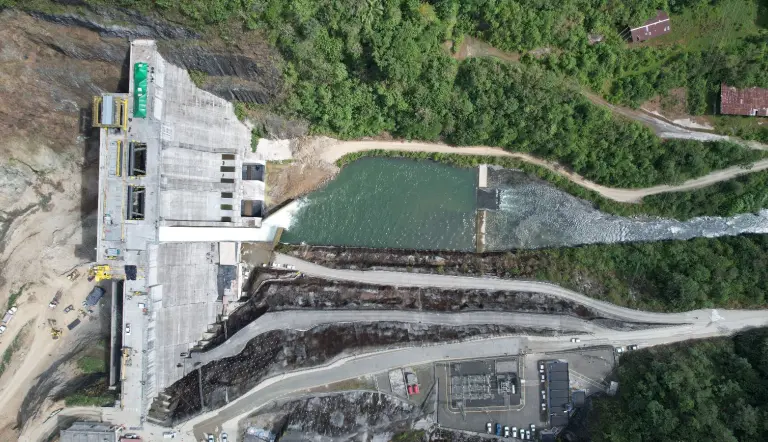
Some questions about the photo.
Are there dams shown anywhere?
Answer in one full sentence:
Yes, a dam is visible in the scene.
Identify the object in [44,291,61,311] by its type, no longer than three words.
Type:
vehicle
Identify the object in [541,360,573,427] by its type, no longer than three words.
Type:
building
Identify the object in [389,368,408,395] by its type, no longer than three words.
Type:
shed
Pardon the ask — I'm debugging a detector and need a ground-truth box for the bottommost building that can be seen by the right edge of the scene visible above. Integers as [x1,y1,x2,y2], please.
[715,85,768,119]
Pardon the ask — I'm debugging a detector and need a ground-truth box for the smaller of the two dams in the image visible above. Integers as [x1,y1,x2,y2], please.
[476,164,498,254]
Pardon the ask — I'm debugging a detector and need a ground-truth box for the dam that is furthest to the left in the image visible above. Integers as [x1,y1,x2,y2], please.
[96,41,268,430]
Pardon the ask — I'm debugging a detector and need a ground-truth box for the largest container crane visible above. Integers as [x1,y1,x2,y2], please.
[92,94,134,134]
